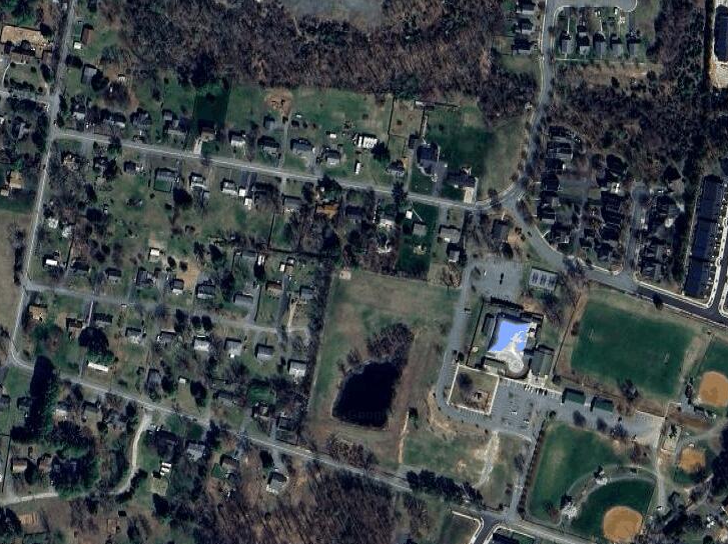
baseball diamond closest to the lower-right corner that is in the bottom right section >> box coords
[676,445,707,484]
